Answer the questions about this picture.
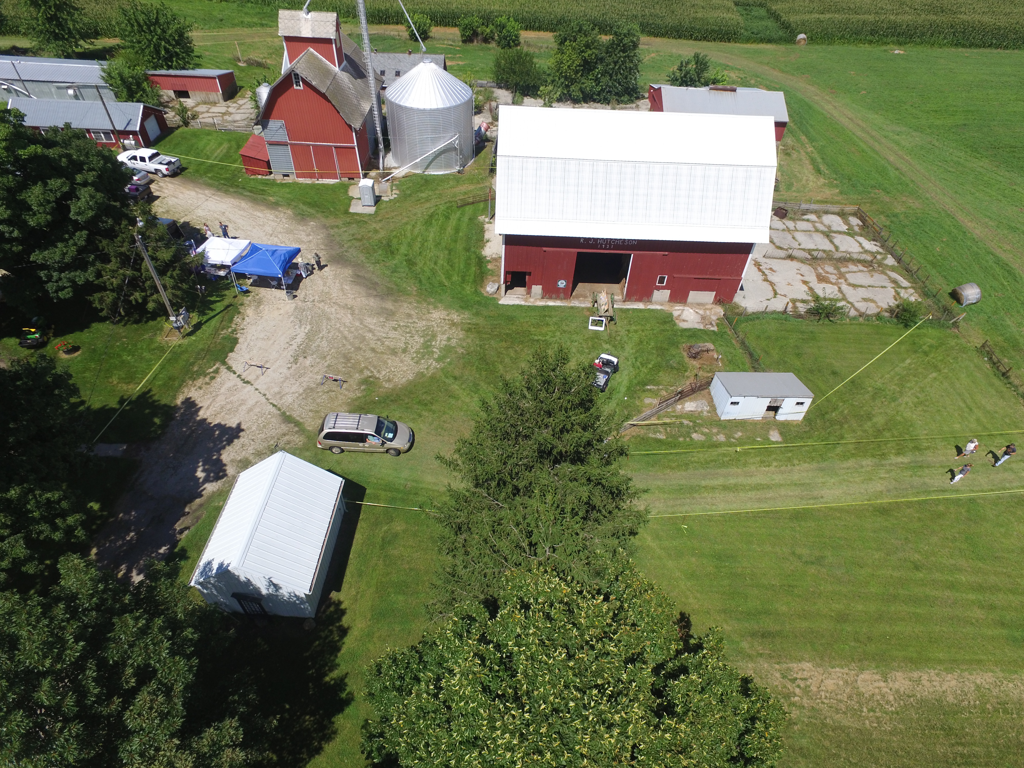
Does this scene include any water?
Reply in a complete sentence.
No, the picture contains no water.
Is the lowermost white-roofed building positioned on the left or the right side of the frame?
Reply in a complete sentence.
The lowermost white-roofed building appears in the left half of the scene.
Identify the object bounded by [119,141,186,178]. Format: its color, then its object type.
white truck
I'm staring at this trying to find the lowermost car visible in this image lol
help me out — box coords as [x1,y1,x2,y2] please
[315,409,417,459]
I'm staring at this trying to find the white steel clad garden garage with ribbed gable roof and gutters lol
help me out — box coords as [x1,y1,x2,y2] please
[181,453,354,616]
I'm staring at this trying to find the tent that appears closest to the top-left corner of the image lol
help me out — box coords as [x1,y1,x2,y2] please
[192,236,253,287]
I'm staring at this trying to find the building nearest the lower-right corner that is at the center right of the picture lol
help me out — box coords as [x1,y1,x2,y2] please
[711,368,820,421]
